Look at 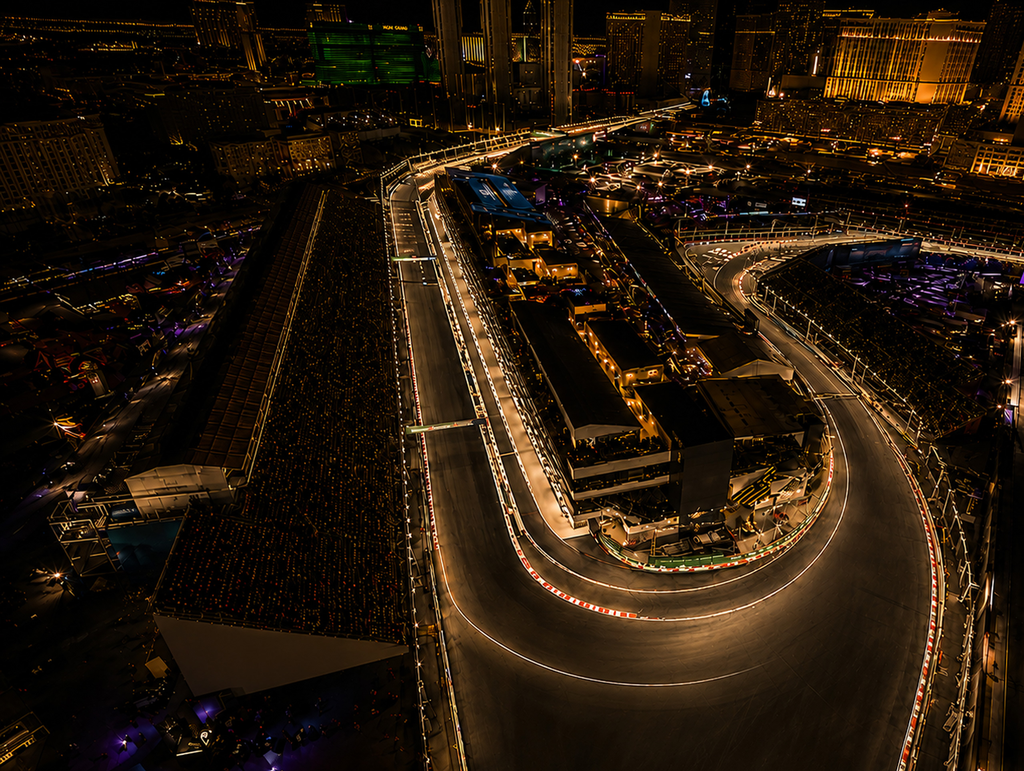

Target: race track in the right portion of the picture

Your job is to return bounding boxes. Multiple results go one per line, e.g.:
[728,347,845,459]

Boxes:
[390,176,1024,771]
